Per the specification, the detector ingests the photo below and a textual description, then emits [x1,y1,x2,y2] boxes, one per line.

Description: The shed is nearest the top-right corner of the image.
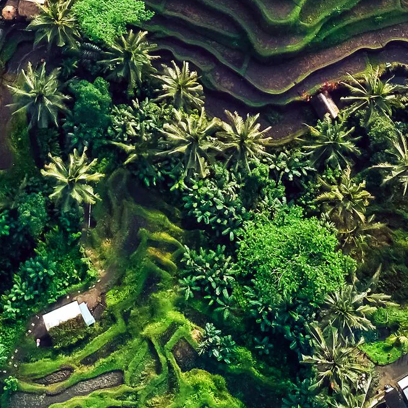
[303,86,343,124]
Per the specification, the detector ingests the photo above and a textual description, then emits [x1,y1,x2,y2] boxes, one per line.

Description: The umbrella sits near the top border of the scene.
[2,5,17,19]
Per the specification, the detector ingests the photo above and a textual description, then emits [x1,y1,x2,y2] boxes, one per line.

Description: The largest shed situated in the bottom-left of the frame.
[42,295,93,343]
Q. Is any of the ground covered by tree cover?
Yes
